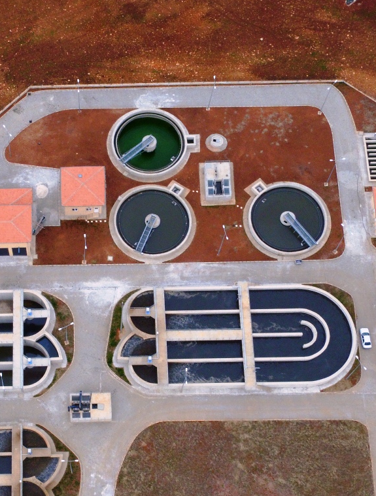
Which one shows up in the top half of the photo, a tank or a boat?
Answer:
tank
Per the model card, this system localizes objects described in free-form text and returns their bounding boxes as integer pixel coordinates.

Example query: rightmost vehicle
[361,327,374,348]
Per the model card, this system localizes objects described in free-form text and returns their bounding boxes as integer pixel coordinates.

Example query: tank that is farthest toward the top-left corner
[107,108,202,182]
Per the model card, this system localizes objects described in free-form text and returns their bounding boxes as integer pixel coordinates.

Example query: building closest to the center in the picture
[198,159,236,206]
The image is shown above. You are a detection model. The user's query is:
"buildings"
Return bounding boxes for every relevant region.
[198,159,236,206]
[0,187,36,266]
[60,166,107,219]
[364,185,376,238]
